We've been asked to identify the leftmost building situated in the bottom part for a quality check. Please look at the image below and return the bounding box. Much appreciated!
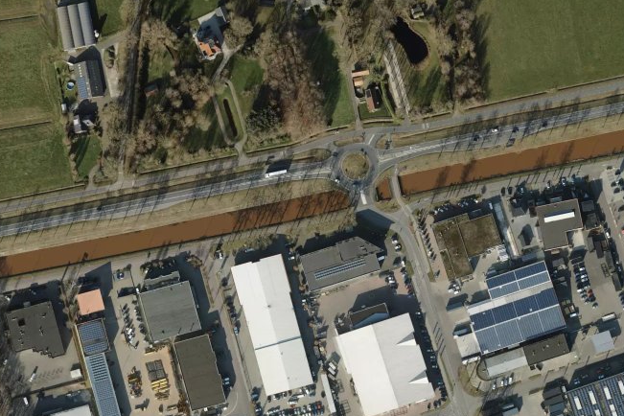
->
[6,302,65,357]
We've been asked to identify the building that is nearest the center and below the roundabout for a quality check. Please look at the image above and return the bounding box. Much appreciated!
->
[299,237,382,293]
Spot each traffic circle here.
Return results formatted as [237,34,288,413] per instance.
[332,140,380,186]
